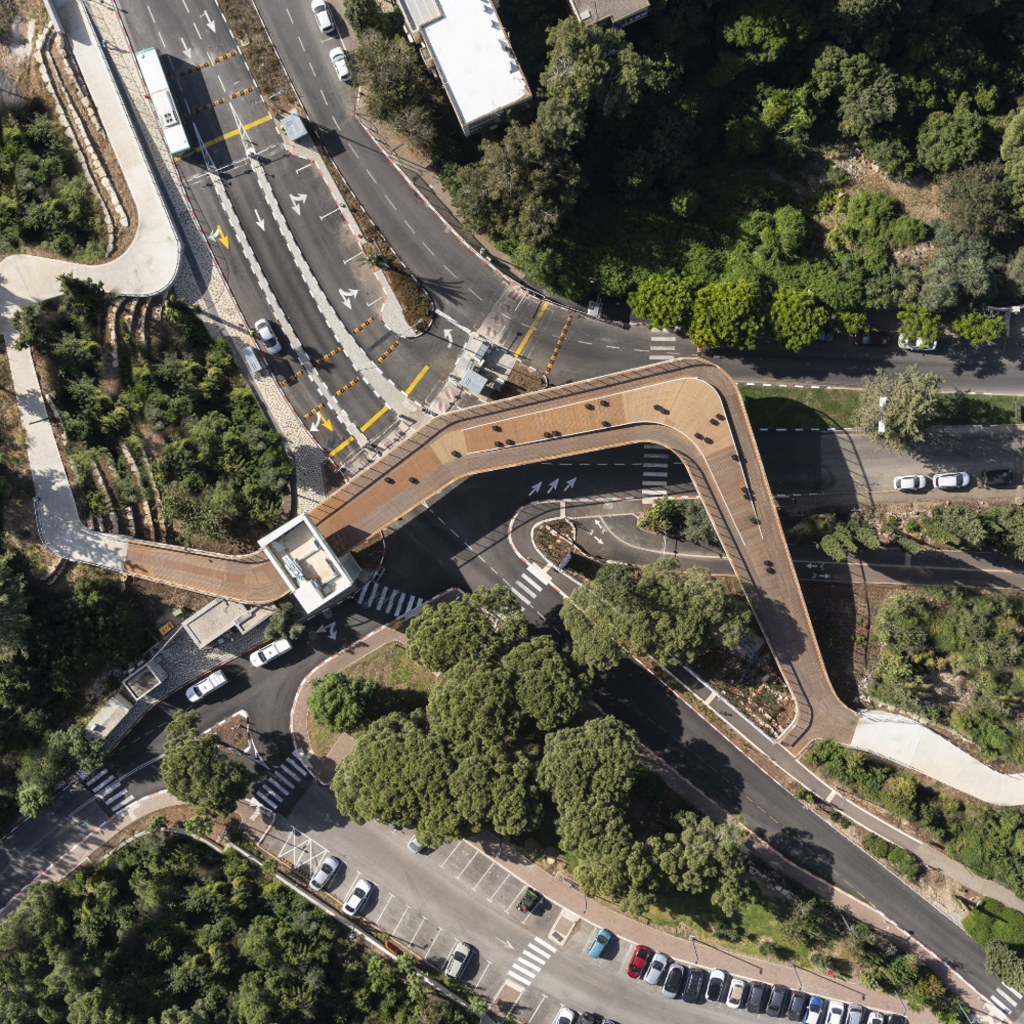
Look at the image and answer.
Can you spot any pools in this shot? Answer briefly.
No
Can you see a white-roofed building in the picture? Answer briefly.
Yes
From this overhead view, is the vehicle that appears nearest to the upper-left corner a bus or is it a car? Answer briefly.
bus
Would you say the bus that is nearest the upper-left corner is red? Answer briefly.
No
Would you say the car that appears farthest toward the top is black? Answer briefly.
No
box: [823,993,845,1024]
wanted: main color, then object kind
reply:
white car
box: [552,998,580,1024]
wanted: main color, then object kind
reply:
white car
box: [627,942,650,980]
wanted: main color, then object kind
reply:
red car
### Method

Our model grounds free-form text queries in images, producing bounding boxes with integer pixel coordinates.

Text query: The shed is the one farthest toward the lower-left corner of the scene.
[87,689,141,737]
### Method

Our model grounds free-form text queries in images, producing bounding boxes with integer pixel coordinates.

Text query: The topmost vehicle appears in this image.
[311,0,336,38]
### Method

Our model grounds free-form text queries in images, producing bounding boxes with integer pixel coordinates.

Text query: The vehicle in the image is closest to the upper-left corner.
[132,46,194,160]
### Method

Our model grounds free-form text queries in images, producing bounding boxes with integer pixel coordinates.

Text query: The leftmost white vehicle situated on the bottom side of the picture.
[185,669,230,702]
